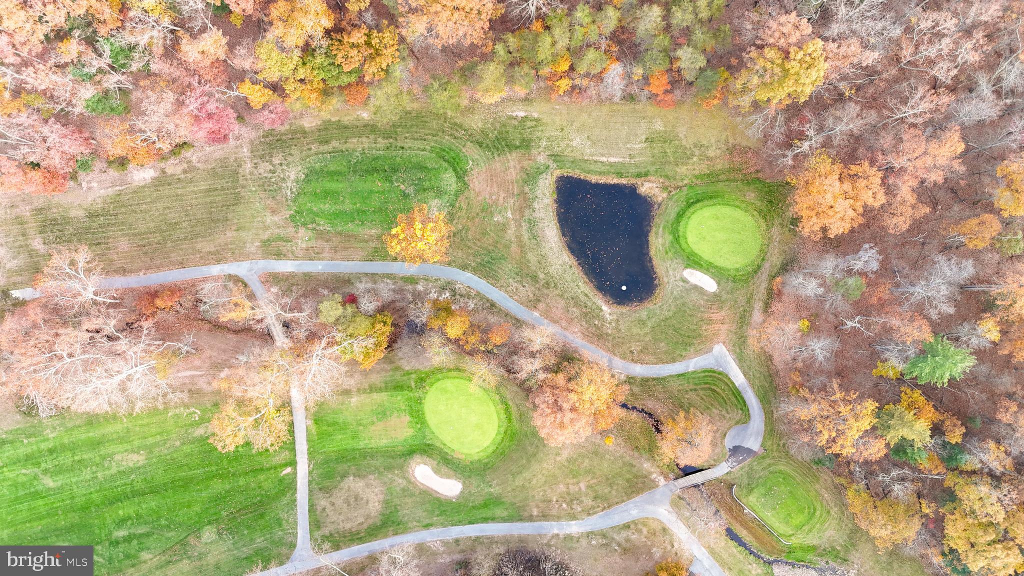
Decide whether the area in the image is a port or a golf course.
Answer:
golf course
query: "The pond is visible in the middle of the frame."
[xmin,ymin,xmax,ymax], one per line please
[553,173,657,305]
